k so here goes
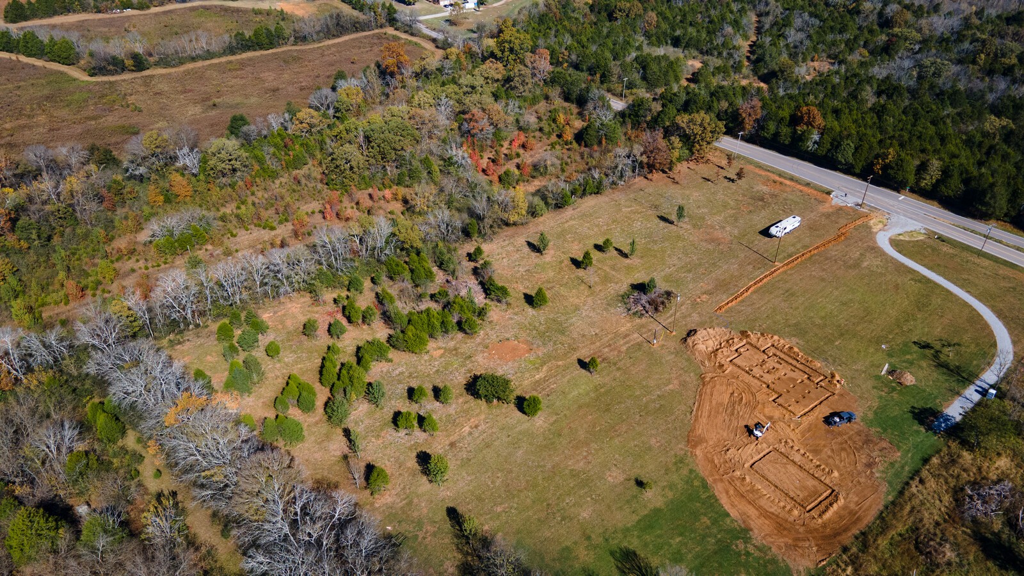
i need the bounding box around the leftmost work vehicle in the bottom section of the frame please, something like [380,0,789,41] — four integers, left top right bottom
[751,418,773,438]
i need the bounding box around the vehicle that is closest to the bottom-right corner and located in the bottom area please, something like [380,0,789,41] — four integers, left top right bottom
[824,408,858,427]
